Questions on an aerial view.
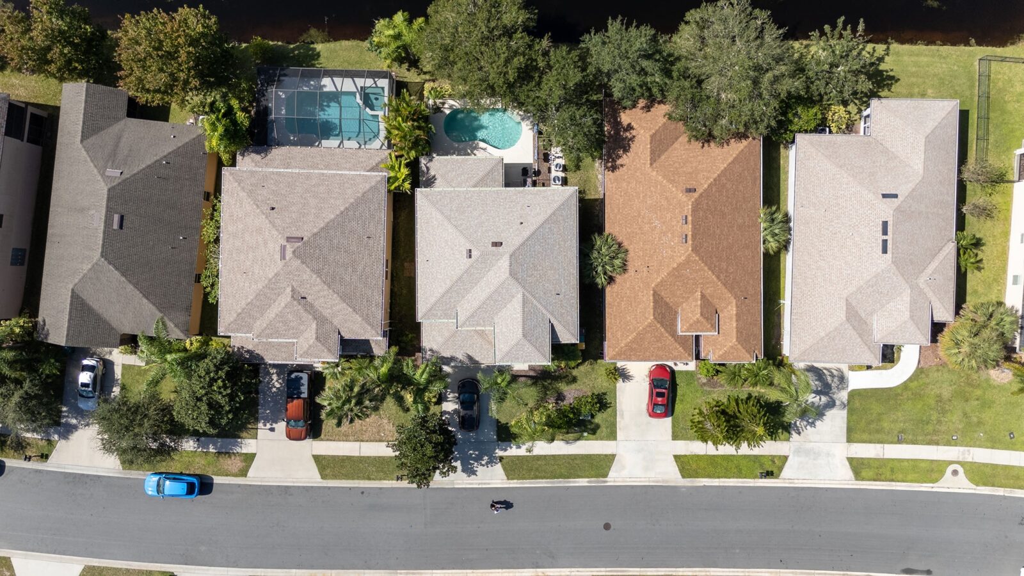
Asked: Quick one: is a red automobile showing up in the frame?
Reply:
Yes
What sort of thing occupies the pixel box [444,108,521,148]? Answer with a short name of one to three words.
swimming pool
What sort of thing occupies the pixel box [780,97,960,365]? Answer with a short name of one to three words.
house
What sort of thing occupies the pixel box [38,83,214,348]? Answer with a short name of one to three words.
house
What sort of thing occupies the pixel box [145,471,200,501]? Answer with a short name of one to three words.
car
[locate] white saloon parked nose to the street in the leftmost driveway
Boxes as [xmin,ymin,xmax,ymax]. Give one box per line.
[75,356,110,411]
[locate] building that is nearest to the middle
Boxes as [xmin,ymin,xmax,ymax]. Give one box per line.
[415,155,580,366]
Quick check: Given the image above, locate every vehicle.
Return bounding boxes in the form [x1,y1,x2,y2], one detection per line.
[283,370,314,438]
[75,356,110,411]
[145,471,200,501]
[455,378,483,432]
[646,364,674,419]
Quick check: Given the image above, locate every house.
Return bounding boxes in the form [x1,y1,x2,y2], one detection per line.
[603,97,764,364]
[1001,149,1024,354]
[38,83,214,348]
[415,155,580,366]
[0,93,48,318]
[780,97,960,365]
[217,147,393,364]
